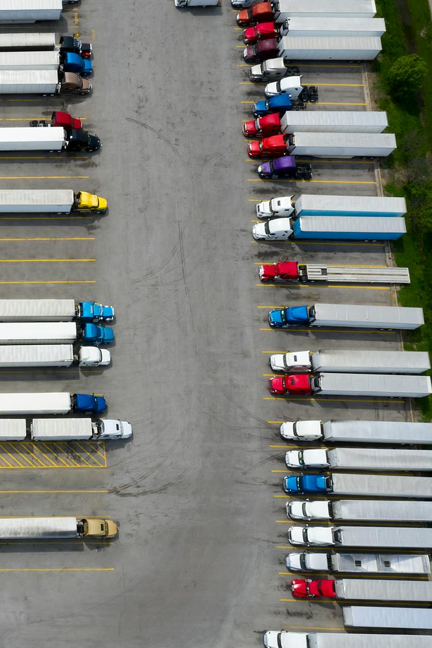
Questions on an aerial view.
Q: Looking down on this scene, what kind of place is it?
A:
parking lot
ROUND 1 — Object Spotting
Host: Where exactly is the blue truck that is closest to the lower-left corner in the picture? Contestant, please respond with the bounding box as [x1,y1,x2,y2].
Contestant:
[51,394,106,415]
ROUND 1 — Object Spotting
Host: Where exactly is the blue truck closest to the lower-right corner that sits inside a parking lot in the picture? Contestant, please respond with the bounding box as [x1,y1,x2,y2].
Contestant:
[281,472,329,495]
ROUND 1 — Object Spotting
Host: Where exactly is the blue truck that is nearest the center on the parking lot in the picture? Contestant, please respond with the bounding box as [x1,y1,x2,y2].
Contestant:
[267,306,317,328]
